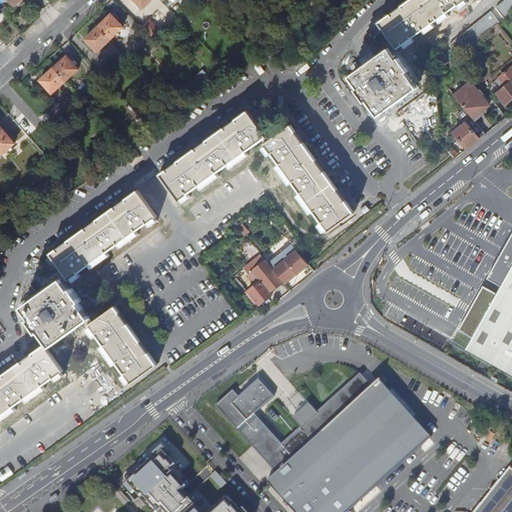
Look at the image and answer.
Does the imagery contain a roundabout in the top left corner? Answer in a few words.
No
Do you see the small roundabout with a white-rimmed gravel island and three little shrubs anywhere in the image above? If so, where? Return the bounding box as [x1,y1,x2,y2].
[312,278,356,322]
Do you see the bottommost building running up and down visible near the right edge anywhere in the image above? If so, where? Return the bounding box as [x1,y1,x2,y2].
[466,262,512,375]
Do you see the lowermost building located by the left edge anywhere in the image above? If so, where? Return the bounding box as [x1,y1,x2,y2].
[0,346,66,420]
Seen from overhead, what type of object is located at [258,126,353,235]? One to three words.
building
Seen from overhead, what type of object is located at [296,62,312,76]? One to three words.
vehicle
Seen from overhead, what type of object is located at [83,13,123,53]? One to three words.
house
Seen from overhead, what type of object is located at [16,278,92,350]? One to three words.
building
